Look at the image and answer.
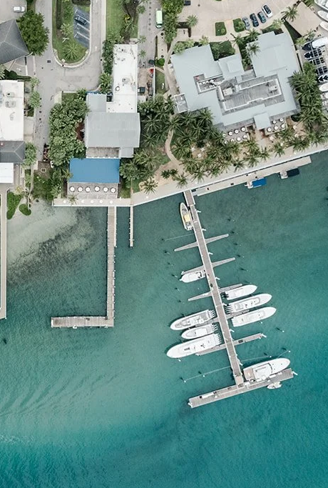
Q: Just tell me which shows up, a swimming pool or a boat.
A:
boat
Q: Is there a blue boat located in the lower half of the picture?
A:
No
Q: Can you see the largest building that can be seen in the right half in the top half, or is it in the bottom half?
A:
top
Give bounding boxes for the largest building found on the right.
[167,31,301,131]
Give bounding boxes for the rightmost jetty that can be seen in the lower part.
[173,191,296,406]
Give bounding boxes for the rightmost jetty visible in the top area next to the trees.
[193,157,311,197]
